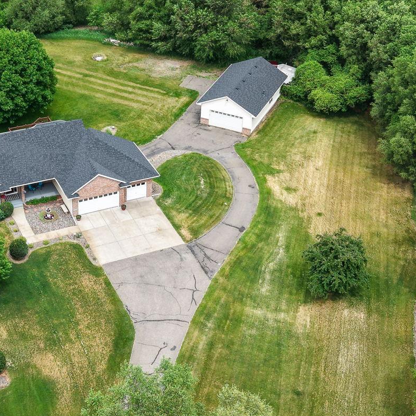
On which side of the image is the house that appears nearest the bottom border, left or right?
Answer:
left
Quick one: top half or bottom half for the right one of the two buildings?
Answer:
top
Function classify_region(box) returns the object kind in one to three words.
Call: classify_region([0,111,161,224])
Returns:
house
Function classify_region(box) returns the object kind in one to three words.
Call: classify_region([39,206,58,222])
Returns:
fountain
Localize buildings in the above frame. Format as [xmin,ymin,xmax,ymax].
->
[195,57,289,135]
[0,111,161,224]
